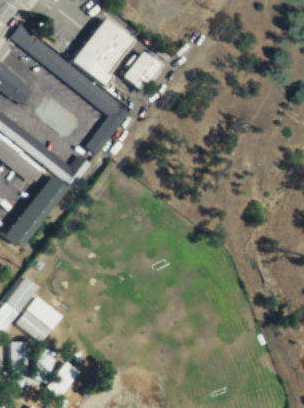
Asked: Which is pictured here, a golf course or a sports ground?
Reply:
sports ground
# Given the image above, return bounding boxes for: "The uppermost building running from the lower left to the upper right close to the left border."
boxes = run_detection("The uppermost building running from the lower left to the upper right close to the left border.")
[0,176,68,246]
